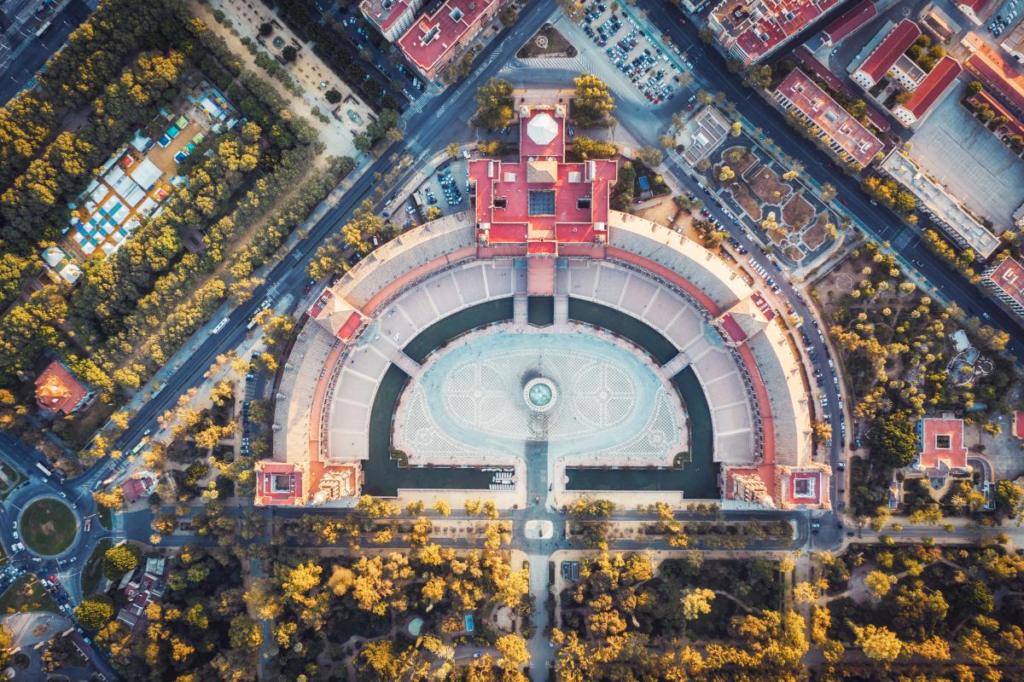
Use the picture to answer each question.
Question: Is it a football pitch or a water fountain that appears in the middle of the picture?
water fountain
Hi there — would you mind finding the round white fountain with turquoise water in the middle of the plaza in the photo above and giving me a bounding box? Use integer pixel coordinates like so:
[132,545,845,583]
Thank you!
[522,377,556,411]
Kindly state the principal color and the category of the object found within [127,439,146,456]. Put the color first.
white vehicle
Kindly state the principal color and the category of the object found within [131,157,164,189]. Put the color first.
white tent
